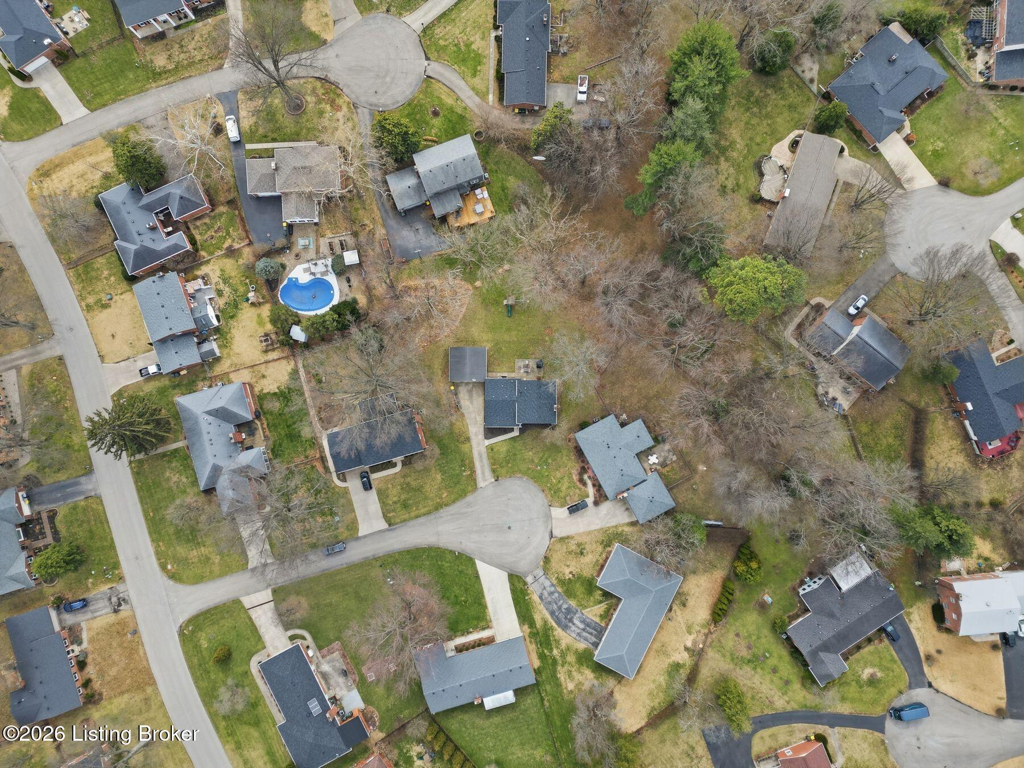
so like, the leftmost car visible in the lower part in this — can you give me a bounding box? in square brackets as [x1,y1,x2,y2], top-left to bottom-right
[61,598,85,613]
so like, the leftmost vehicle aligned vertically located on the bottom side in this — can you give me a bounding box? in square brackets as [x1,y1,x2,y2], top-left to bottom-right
[359,471,372,493]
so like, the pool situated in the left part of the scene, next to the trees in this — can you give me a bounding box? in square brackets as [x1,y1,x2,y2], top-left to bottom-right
[279,260,339,314]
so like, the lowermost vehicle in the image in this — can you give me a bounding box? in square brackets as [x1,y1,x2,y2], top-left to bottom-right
[890,702,931,721]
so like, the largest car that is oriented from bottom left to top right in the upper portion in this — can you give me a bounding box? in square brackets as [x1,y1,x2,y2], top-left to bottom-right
[848,293,870,315]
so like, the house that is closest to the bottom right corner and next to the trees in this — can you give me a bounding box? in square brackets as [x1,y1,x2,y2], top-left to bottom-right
[936,563,1024,637]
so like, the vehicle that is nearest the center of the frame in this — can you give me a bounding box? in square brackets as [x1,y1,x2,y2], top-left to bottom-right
[567,500,590,515]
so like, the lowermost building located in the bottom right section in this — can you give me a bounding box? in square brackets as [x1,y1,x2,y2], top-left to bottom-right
[776,736,833,768]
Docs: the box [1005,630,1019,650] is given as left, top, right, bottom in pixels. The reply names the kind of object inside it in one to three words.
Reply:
car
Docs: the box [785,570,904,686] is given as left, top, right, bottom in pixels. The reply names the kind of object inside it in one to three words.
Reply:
house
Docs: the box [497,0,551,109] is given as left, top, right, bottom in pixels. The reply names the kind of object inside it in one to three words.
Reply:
house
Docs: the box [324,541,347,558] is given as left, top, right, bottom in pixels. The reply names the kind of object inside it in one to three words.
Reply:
car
